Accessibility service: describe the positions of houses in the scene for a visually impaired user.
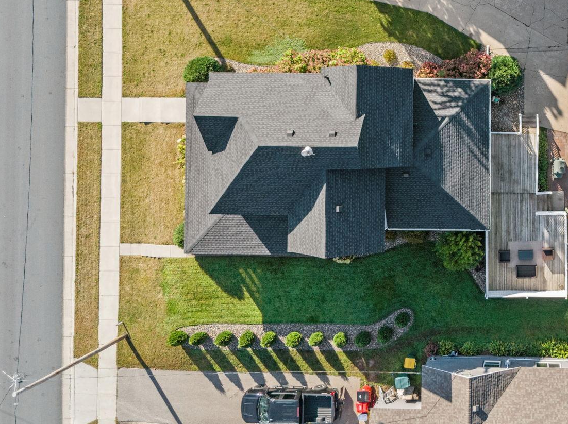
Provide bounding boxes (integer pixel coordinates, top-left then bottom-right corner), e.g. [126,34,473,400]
[369,355,568,424]
[186,65,493,259]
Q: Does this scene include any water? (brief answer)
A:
No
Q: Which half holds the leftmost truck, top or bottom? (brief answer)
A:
bottom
